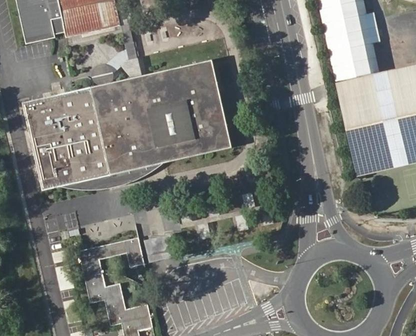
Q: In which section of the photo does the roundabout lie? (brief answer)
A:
bottom right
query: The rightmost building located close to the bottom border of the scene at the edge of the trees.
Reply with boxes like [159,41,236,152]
[82,238,154,336]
